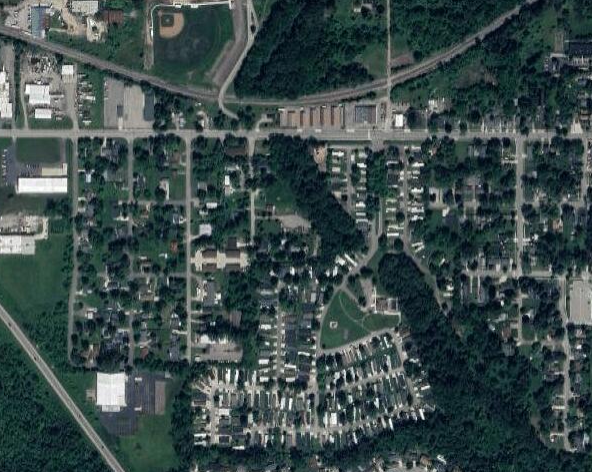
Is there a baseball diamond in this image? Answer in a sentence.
Yes, the photo shows a baseball diamond.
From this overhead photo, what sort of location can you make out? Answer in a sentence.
This looks like a residential area.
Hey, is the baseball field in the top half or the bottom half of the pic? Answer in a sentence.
You can find the baseball field in the top half.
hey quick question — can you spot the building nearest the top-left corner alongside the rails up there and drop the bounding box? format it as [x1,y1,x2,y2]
[30,6,54,38]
